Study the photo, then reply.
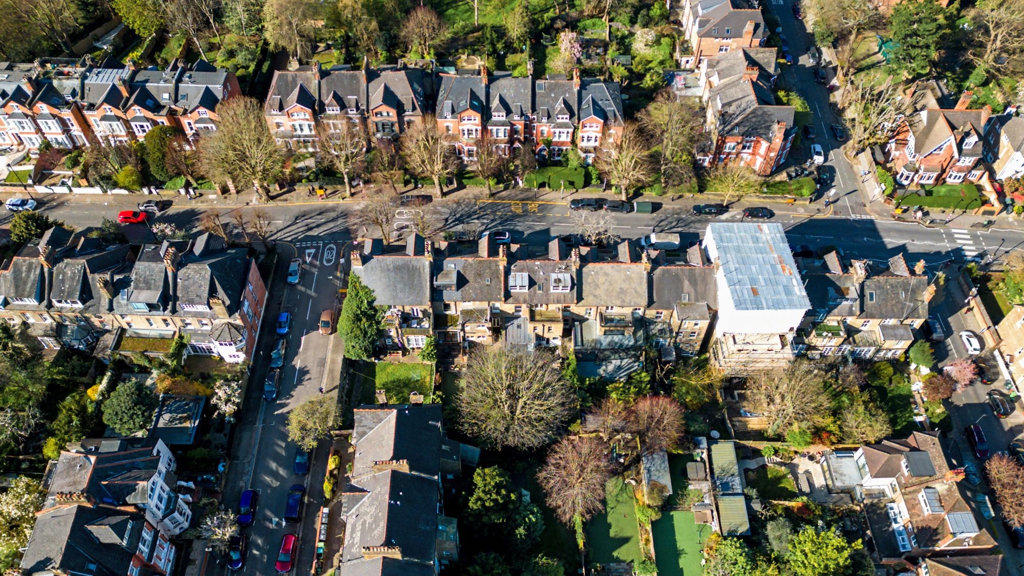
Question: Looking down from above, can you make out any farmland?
No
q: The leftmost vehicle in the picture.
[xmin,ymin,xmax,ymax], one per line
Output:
[3,198,38,212]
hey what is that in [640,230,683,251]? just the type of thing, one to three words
vehicle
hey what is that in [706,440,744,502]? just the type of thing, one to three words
shed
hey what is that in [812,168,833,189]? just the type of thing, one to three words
car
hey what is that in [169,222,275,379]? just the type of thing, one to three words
house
